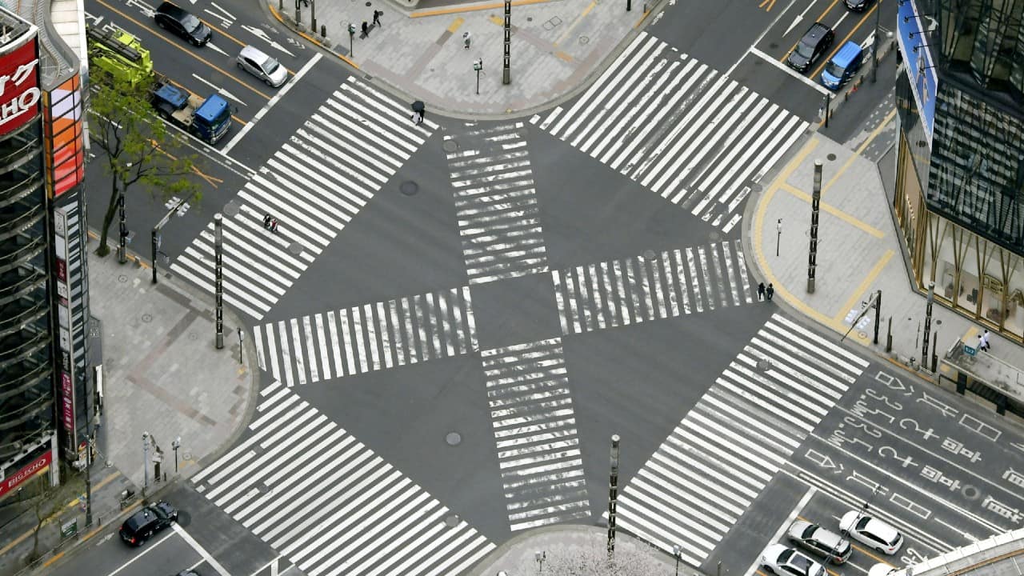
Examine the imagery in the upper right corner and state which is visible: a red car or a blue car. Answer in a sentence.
There is a blue car in the upper right corner.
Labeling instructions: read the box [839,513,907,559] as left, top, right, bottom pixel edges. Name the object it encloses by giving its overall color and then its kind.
white car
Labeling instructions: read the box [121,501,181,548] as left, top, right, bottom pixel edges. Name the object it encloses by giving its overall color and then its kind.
black car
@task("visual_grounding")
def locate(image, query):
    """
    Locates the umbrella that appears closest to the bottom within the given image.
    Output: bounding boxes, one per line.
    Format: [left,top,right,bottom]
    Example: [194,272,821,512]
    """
[411,103,427,117]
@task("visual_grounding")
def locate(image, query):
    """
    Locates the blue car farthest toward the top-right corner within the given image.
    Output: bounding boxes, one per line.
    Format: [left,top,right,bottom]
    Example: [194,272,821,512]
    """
[818,38,865,91]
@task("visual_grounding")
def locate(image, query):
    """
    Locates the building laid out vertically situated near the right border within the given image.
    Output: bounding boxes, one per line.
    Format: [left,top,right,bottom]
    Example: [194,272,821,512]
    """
[877,0,1024,344]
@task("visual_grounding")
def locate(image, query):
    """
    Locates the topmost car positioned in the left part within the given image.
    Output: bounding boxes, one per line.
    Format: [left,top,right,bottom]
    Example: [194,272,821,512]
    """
[150,0,215,47]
